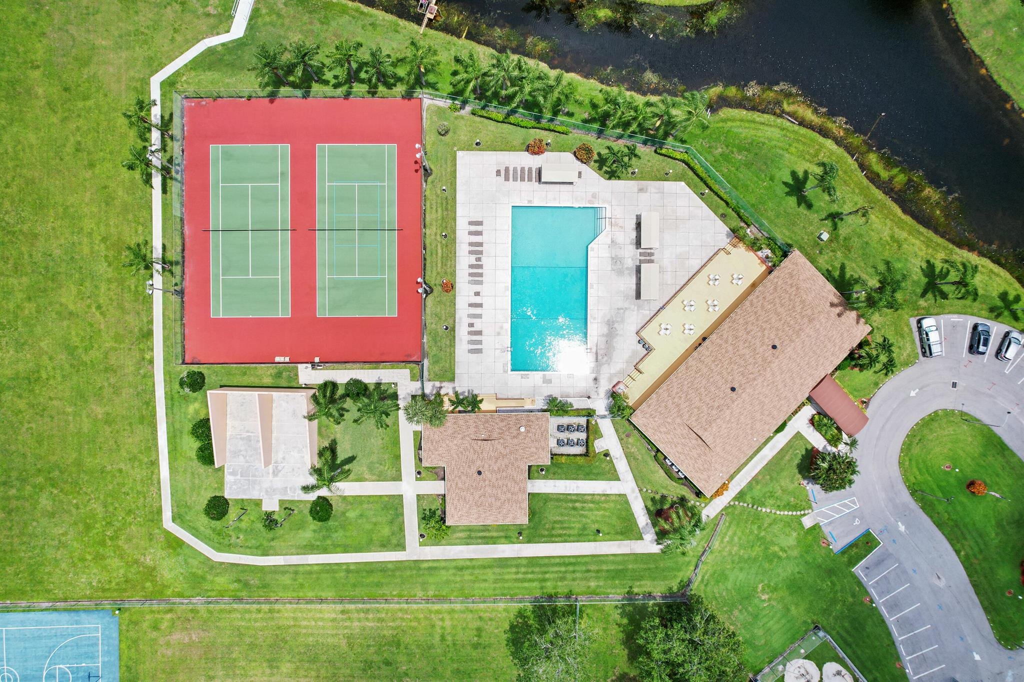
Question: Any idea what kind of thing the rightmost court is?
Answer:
tennis court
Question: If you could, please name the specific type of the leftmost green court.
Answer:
tennis court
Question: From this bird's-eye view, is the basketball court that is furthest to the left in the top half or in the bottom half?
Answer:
bottom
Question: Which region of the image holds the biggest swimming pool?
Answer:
center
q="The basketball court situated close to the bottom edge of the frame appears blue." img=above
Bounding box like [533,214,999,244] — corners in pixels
[0,610,119,682]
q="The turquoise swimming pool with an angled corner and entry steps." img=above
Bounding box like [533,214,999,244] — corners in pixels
[509,204,611,373]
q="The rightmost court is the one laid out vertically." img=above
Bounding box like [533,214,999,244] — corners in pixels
[316,144,397,316]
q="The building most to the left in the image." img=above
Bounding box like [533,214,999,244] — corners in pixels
[421,412,550,525]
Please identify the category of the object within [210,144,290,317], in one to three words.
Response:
tennis court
